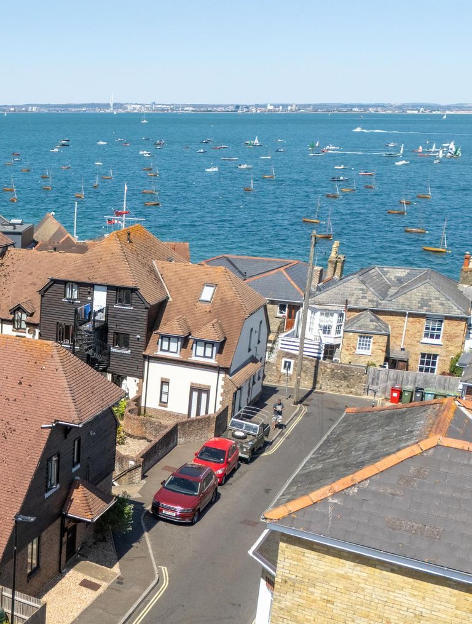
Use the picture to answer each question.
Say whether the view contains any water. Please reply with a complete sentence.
Yes, the picture does contain water.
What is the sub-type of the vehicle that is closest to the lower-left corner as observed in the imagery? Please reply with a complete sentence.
What you see as the vehicle that is closest to the lower-left corner is an automobile.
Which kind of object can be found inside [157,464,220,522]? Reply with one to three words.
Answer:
car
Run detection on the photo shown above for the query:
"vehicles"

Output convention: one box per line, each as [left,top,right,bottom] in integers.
[197,442,245,487]
[215,407,261,452]
[157,464,220,522]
